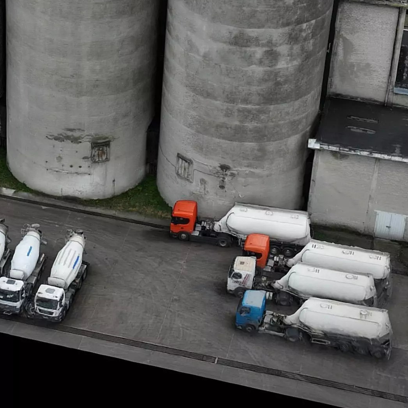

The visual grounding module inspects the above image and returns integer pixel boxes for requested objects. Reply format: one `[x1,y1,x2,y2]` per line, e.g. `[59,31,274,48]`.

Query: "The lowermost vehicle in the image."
[231,287,392,358]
